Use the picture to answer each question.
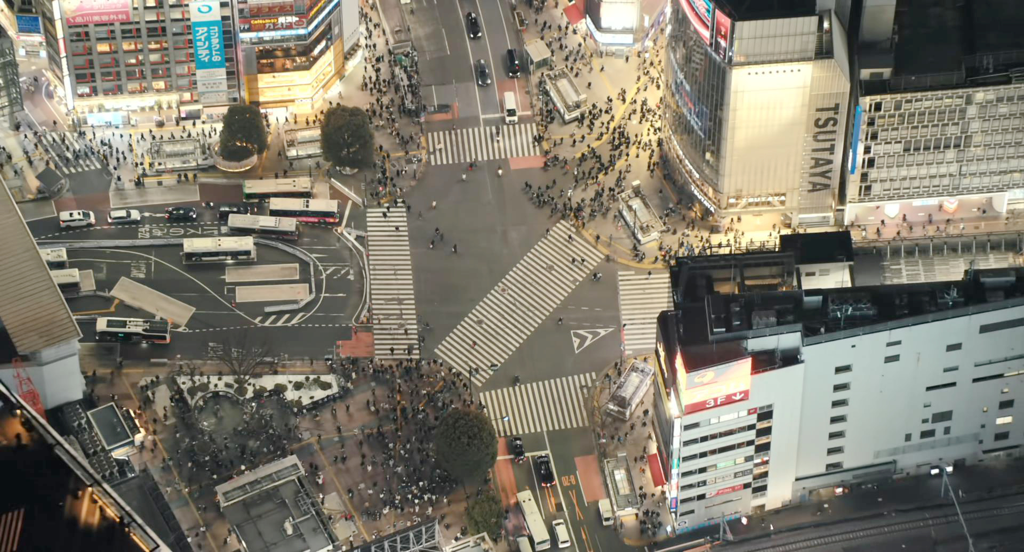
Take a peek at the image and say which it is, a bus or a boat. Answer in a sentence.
Visible in the photo is a bus.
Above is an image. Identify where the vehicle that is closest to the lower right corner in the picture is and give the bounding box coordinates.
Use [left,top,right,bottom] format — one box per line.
[598,498,615,527]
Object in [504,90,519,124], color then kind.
white vehicle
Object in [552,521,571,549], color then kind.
white car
